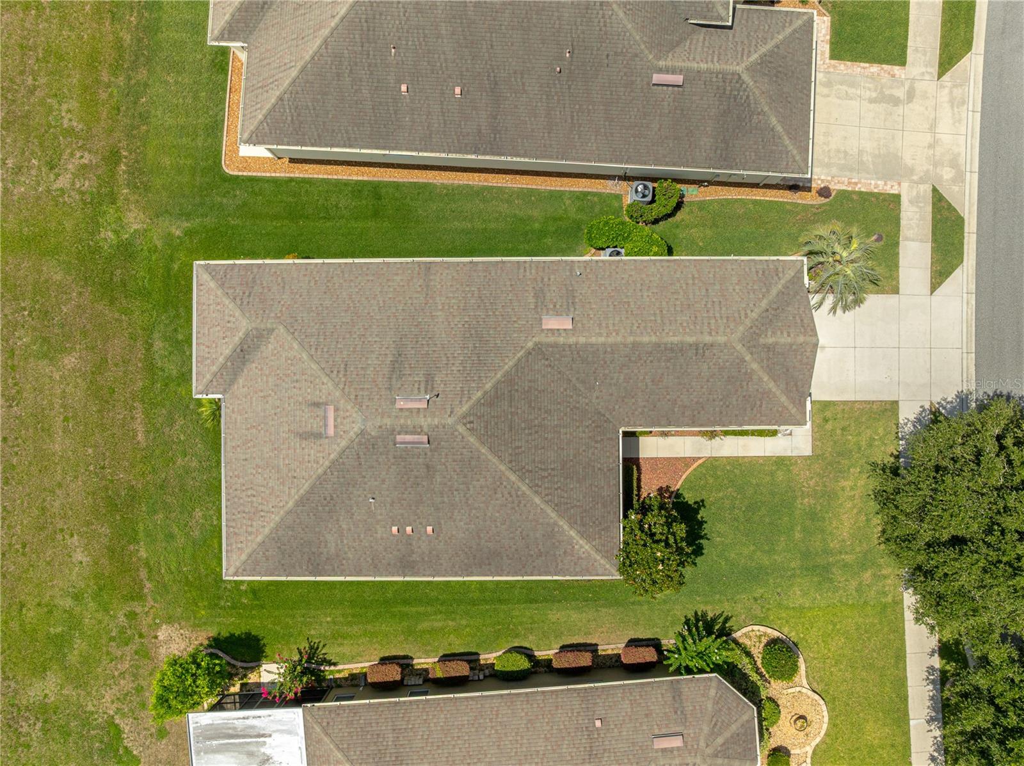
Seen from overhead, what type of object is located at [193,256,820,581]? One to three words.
house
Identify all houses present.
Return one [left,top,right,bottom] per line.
[193,256,820,581]
[185,666,761,766]
[207,0,817,190]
